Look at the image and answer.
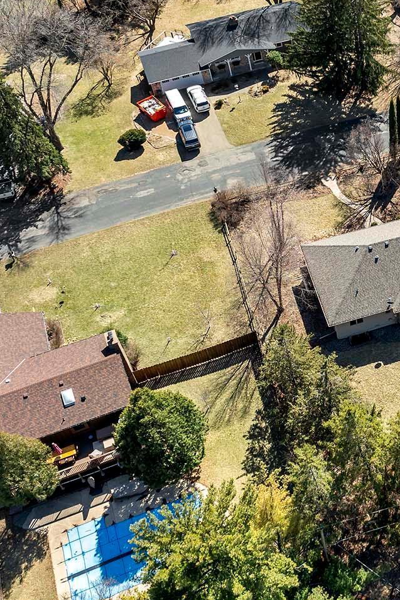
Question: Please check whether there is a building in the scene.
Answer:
Yes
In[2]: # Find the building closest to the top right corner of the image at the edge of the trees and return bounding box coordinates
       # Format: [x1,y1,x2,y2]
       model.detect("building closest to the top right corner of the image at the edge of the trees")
[137,1,307,97]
